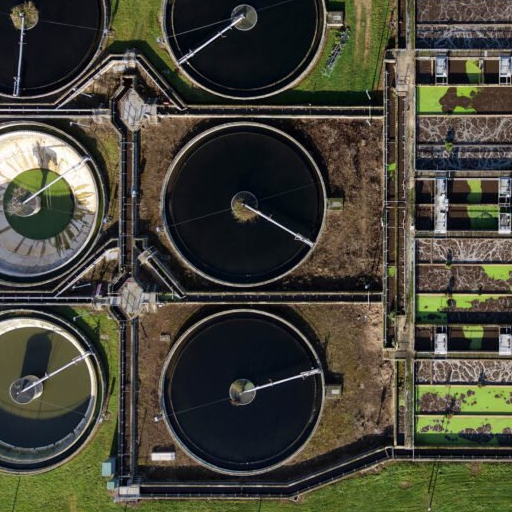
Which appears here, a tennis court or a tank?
tank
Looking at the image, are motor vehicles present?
No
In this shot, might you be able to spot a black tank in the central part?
Yes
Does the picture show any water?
Yes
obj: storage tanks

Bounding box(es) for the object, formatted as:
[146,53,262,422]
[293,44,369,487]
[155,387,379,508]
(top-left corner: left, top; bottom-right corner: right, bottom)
[163,0,327,98]
[163,122,327,286]
[0,121,109,285]
[160,309,325,474]
[0,309,107,475]
[0,0,109,98]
